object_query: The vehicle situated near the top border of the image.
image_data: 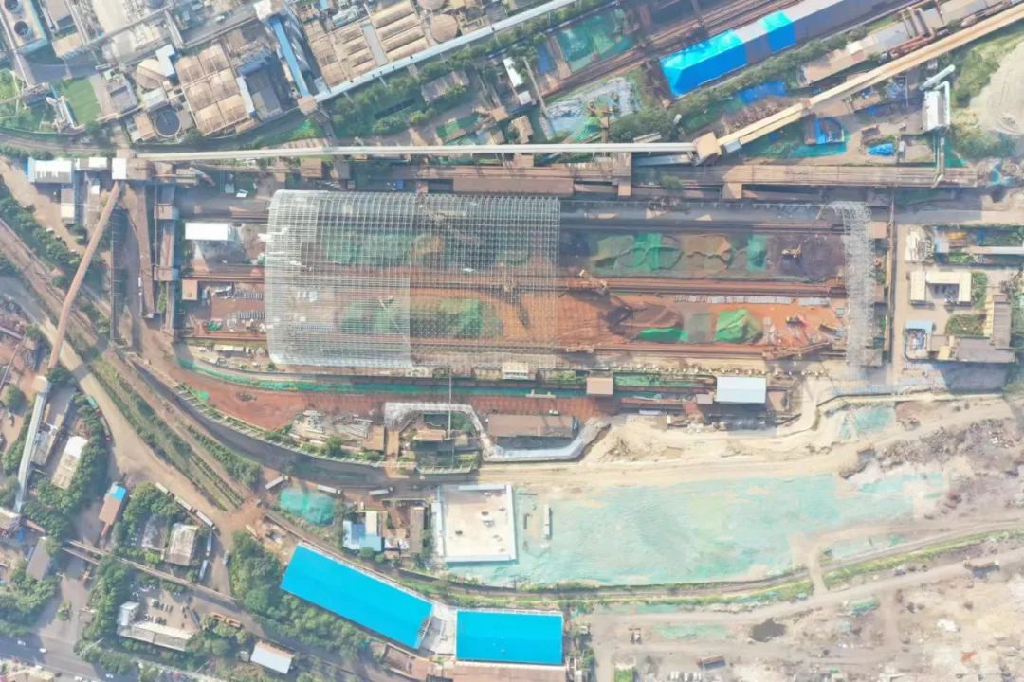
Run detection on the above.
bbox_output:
[209,10,227,22]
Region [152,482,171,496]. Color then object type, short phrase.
white vehicle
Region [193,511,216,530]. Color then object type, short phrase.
white vehicle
